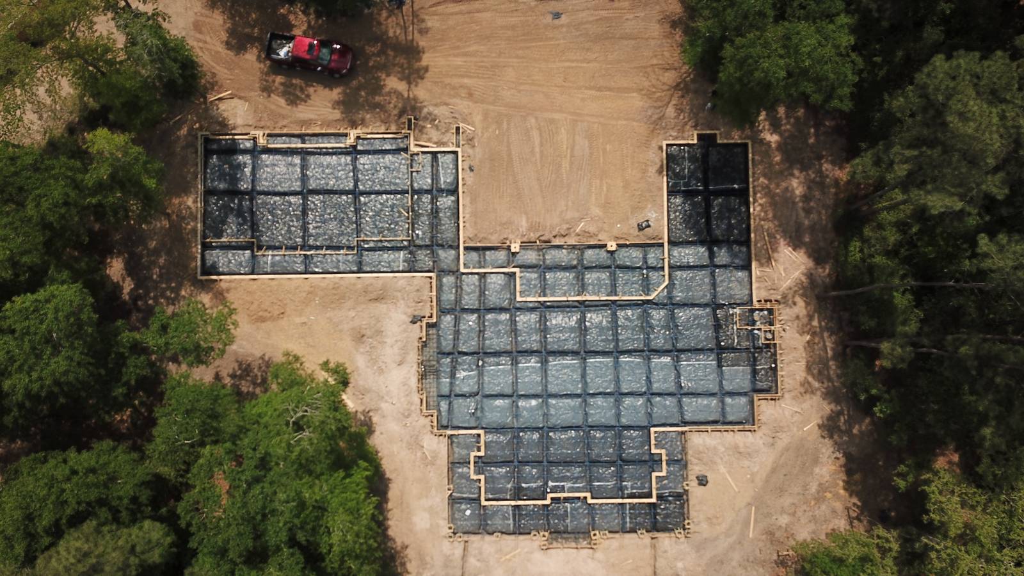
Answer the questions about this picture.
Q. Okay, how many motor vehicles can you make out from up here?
1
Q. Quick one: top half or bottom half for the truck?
top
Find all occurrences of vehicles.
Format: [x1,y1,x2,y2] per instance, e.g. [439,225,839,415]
[264,29,355,76]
